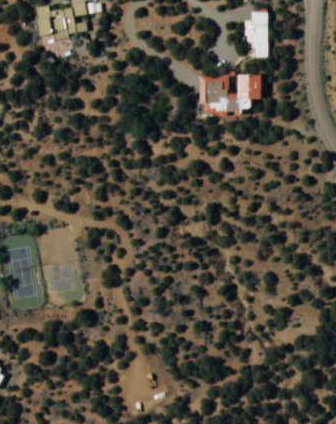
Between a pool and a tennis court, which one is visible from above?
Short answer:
tennis court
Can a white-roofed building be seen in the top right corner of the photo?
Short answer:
Yes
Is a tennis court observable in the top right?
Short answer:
No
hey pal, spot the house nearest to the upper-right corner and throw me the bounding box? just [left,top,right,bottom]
[244,9,268,58]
